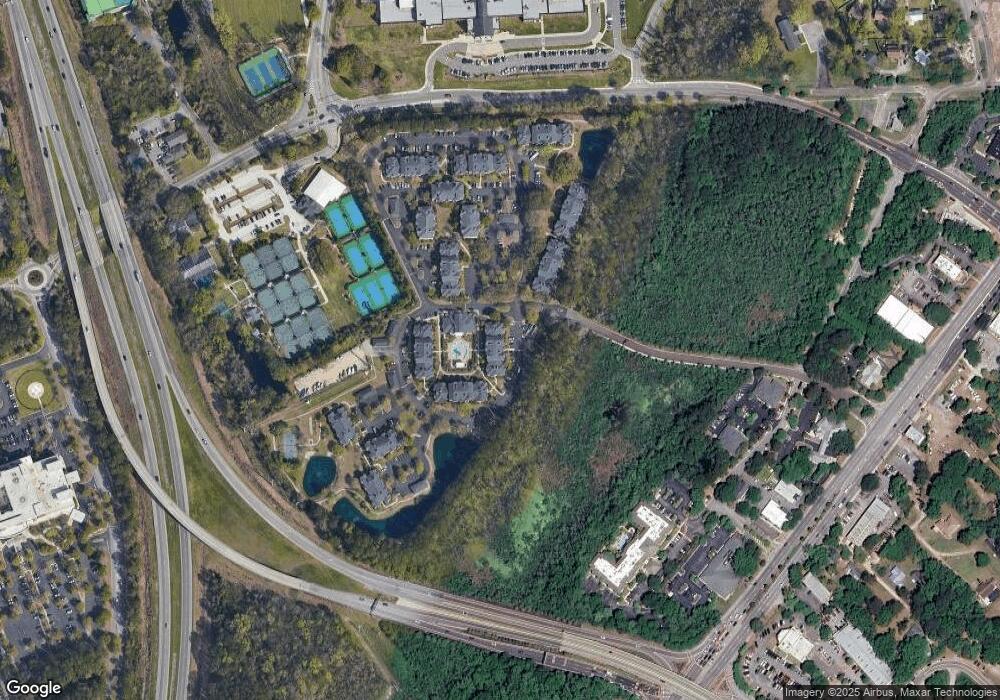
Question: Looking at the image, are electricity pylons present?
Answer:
No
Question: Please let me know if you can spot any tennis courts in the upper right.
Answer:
No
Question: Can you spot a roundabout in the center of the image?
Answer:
No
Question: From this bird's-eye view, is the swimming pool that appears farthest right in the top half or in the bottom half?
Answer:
bottom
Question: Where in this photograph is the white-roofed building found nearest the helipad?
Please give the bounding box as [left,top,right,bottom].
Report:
[0,456,79,530]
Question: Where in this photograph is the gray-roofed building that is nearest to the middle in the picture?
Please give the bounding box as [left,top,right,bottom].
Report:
[483,323,506,376]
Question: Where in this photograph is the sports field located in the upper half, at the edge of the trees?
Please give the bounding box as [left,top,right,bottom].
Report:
[221,0,305,42]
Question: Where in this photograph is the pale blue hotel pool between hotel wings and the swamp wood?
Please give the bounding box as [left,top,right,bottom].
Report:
[611,528,634,555]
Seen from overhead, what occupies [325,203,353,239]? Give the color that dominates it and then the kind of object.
blue tennis court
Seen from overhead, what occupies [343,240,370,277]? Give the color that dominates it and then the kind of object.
blue tennis court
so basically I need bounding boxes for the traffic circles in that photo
[18,258,53,293]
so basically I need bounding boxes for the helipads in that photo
[17,371,56,409]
